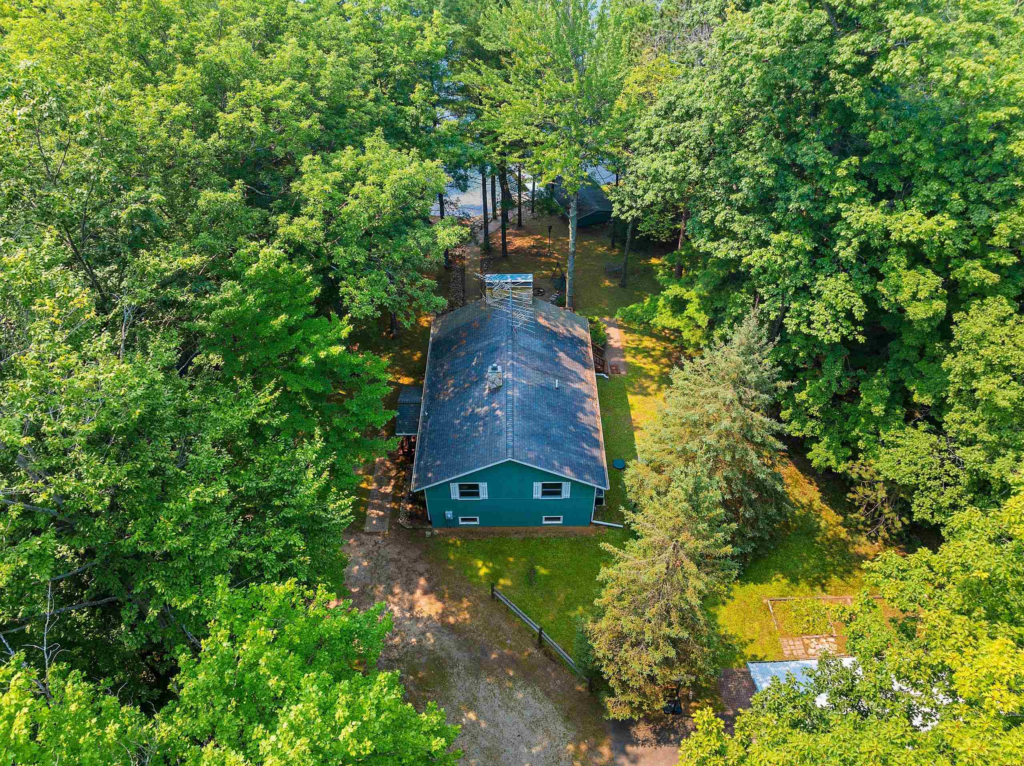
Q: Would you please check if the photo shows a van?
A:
No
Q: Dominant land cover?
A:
trees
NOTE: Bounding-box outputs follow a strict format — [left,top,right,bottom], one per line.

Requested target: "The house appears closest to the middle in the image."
[395,271,623,530]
